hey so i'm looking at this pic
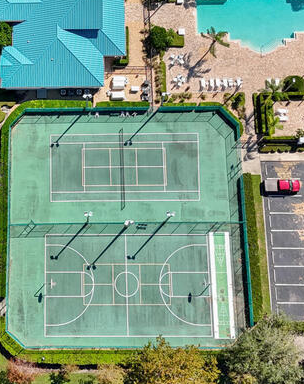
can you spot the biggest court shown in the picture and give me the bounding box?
[9,113,249,345]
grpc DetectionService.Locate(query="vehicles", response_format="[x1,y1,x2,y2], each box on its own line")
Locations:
[263,178,300,193]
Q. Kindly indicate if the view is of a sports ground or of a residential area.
sports ground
